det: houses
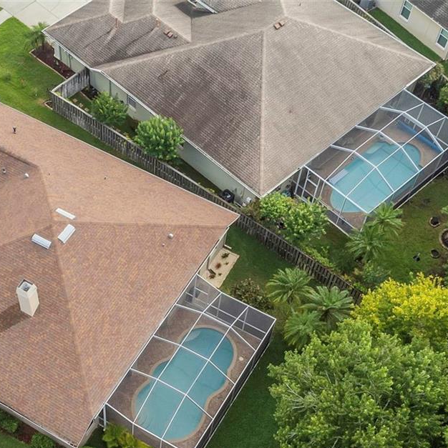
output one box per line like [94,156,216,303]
[373,0,448,58]
[0,103,239,448]
[41,0,436,204]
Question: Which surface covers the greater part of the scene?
buildings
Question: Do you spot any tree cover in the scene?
Yes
